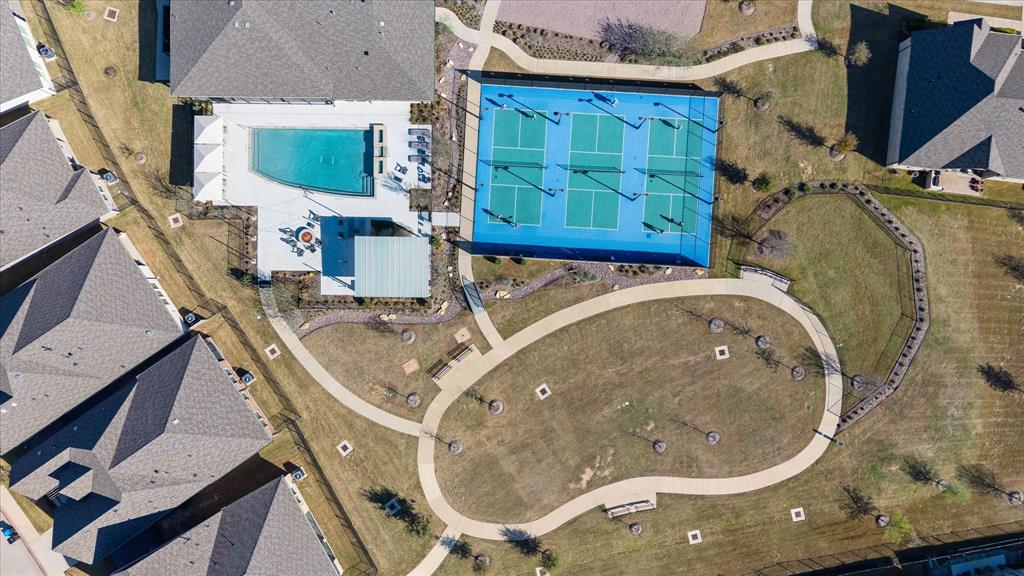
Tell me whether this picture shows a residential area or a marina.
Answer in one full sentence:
This looks like a residential area.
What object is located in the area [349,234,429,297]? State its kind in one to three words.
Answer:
building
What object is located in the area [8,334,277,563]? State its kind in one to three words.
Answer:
house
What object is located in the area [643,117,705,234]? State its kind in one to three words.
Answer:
sports court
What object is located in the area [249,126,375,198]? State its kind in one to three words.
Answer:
swimming pool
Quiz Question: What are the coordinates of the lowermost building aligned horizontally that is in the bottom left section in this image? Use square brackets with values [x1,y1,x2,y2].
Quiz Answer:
[108,471,348,576]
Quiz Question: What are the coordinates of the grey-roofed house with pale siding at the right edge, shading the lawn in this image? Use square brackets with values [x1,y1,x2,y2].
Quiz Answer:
[888,19,1024,181]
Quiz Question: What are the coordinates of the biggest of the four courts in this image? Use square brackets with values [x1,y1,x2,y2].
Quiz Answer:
[471,84,719,266]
